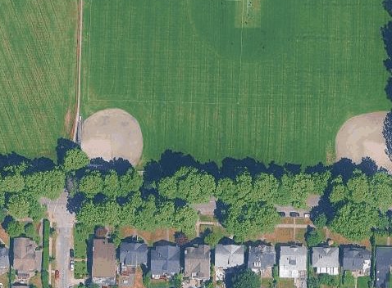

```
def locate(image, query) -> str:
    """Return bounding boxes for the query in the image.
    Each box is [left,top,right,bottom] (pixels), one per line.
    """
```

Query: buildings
[0,242,10,275]
[249,243,276,278]
[120,237,147,276]
[279,243,307,279]
[92,237,118,283]
[150,243,180,278]
[215,242,245,278]
[375,243,392,288]
[184,244,211,280]
[13,235,42,278]
[343,245,371,275]
[311,245,339,275]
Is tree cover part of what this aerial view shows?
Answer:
Yes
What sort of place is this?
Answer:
sports ground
